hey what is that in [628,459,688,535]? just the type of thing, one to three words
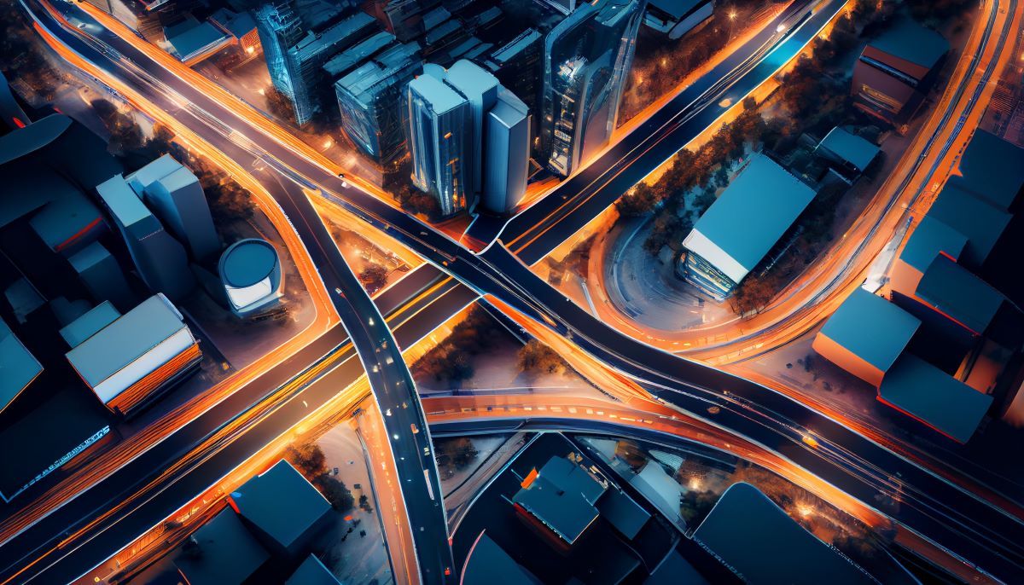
building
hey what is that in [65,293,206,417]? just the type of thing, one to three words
building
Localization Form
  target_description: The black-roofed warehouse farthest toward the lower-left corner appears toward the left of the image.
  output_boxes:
[0,380,122,514]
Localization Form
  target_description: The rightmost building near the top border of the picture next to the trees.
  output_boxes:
[847,16,950,117]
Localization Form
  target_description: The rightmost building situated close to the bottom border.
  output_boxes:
[685,484,876,585]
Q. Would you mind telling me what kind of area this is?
industrial area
